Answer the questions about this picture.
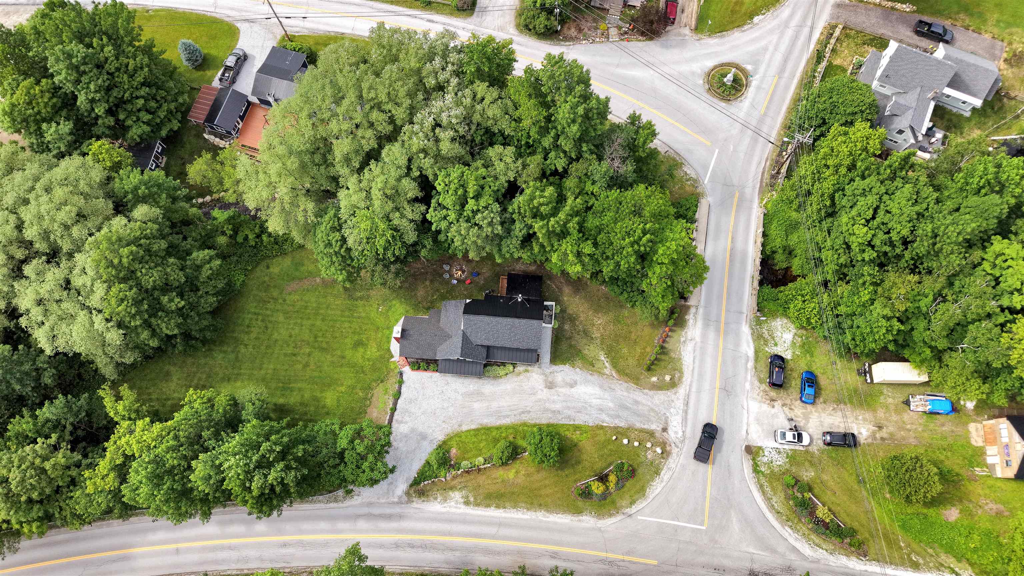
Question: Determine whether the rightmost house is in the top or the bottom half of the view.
bottom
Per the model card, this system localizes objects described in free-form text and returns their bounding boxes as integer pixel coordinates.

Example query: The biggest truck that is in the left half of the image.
[220,49,245,85]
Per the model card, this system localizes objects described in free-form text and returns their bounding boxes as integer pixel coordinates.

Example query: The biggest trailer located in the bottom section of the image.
[863,362,928,383]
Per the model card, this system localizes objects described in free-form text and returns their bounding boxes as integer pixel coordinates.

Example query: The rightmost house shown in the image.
[982,415,1024,481]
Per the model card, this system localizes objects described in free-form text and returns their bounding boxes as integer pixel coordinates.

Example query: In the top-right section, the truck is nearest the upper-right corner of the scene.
[913,21,952,43]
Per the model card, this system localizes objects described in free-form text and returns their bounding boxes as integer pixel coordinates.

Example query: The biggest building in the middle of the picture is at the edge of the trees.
[393,294,555,377]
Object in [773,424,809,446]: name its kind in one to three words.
car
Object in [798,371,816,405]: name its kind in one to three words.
car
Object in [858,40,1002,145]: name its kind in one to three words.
house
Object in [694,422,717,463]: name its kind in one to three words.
truck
